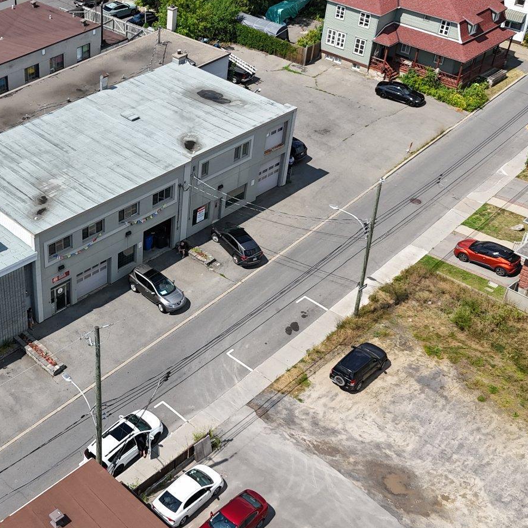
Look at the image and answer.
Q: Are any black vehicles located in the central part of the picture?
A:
Yes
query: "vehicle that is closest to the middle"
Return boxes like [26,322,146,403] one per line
[211,220,268,265]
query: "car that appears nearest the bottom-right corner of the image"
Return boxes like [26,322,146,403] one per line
[333,335,389,387]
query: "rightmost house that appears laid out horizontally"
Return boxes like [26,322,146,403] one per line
[318,0,520,87]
